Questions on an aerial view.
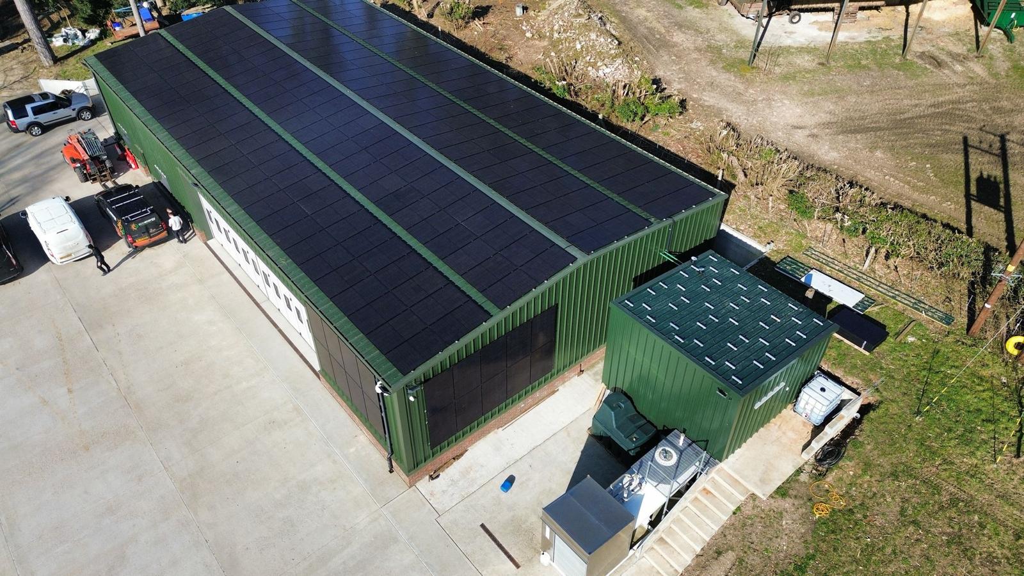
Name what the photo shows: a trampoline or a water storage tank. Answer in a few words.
water storage tank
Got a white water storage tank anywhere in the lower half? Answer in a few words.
Yes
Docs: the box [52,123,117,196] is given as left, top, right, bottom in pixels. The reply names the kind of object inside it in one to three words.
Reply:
work vehicle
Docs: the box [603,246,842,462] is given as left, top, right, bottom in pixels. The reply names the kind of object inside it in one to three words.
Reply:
shed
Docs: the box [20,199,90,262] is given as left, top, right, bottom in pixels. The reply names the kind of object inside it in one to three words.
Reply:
van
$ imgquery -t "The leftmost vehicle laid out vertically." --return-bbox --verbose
[0,225,22,275]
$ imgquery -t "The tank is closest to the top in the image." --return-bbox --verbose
[795,376,845,426]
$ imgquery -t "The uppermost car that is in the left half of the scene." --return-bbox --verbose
[0,89,99,136]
